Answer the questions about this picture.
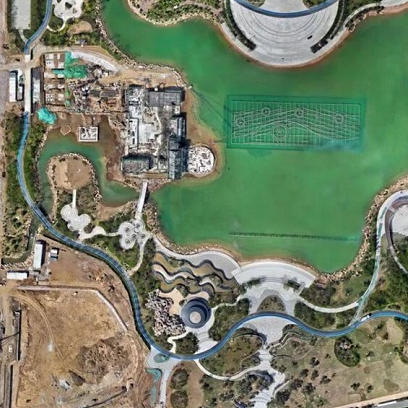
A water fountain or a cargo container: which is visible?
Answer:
water fountain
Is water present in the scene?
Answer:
Yes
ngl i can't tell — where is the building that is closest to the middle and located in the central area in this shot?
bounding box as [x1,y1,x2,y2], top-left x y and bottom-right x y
[169,150,186,180]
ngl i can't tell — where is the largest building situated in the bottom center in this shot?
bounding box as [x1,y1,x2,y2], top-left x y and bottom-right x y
[181,298,211,328]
